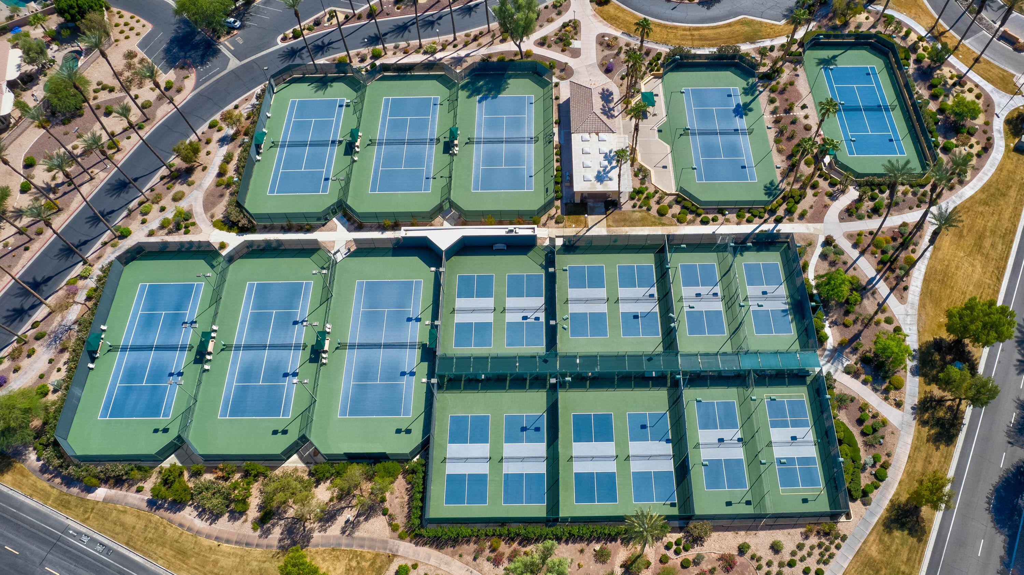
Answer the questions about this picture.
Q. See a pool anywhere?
Yes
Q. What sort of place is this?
sports ground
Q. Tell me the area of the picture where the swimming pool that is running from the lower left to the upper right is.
top left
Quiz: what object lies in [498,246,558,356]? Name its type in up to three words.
sports court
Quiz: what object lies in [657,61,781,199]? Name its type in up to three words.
tennis court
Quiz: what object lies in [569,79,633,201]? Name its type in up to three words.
building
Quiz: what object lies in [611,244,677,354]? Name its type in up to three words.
sports court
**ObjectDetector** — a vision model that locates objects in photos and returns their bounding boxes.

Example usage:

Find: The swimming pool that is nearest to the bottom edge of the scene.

[44,50,83,91]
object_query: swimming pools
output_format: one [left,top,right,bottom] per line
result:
[44,50,83,91]
[1,0,39,7]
